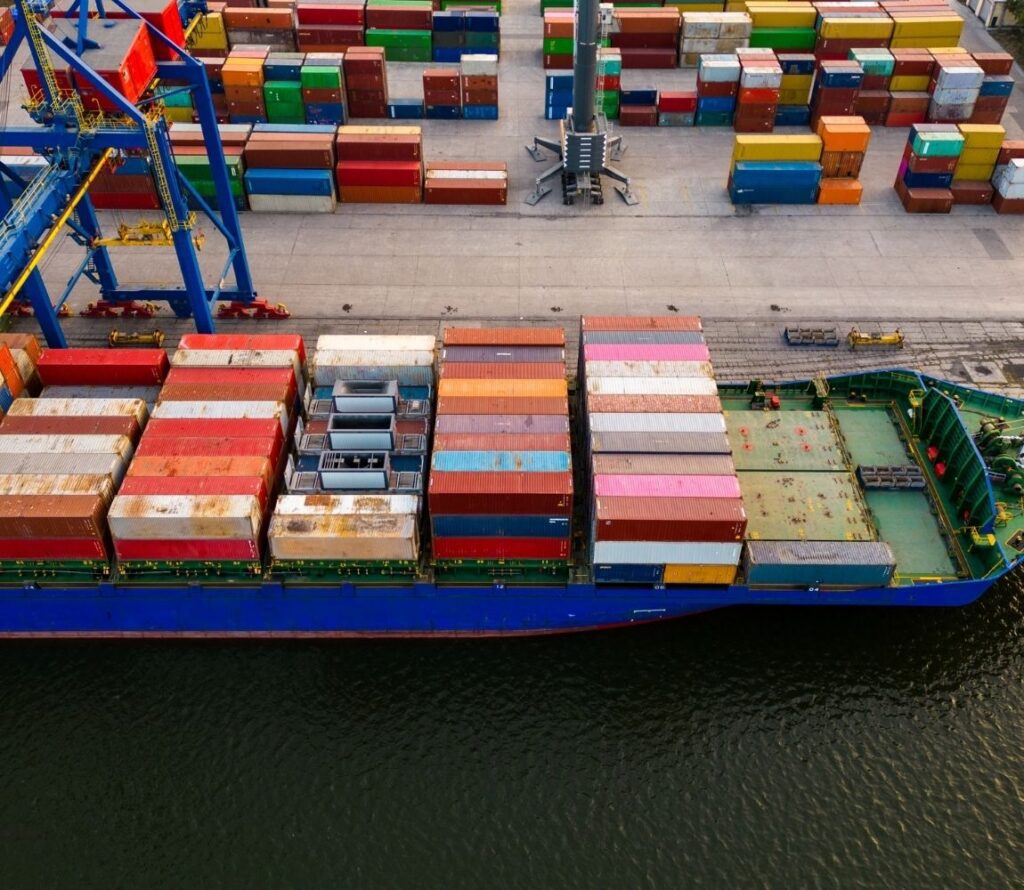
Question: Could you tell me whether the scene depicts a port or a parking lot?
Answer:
port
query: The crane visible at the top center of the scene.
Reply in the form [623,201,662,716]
[522,0,643,209]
